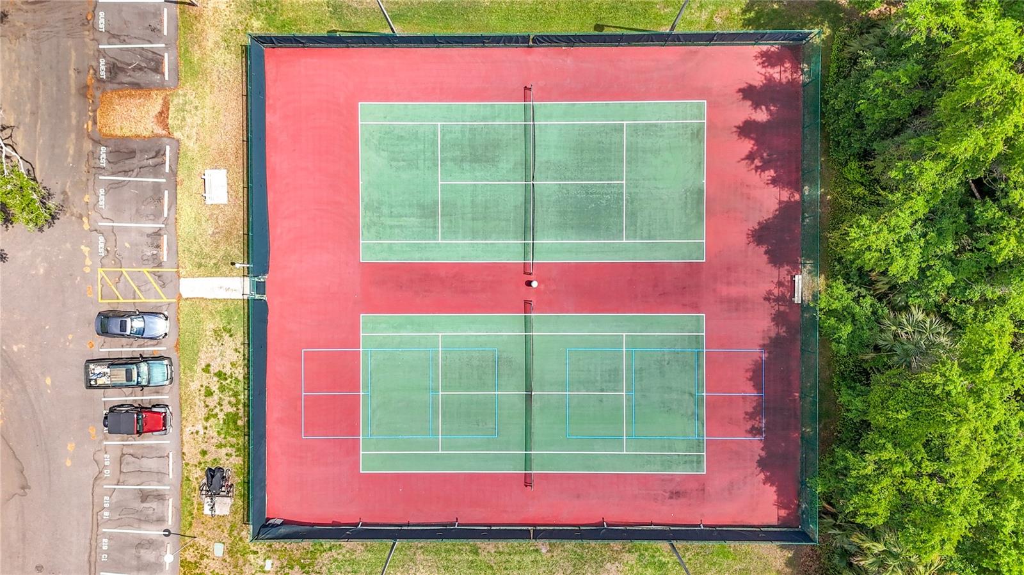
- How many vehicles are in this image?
3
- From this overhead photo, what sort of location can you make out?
sports ground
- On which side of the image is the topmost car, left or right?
left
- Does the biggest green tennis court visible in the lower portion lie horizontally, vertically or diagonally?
horizontally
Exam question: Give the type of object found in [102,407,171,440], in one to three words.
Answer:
car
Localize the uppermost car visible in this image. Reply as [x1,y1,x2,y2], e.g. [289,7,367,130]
[94,308,170,341]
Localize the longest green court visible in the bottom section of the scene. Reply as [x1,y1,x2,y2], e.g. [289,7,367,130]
[360,314,706,474]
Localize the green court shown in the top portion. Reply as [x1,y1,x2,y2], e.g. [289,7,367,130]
[359,100,706,262]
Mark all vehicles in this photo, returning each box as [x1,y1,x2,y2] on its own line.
[102,407,171,440]
[94,308,170,341]
[82,355,173,394]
